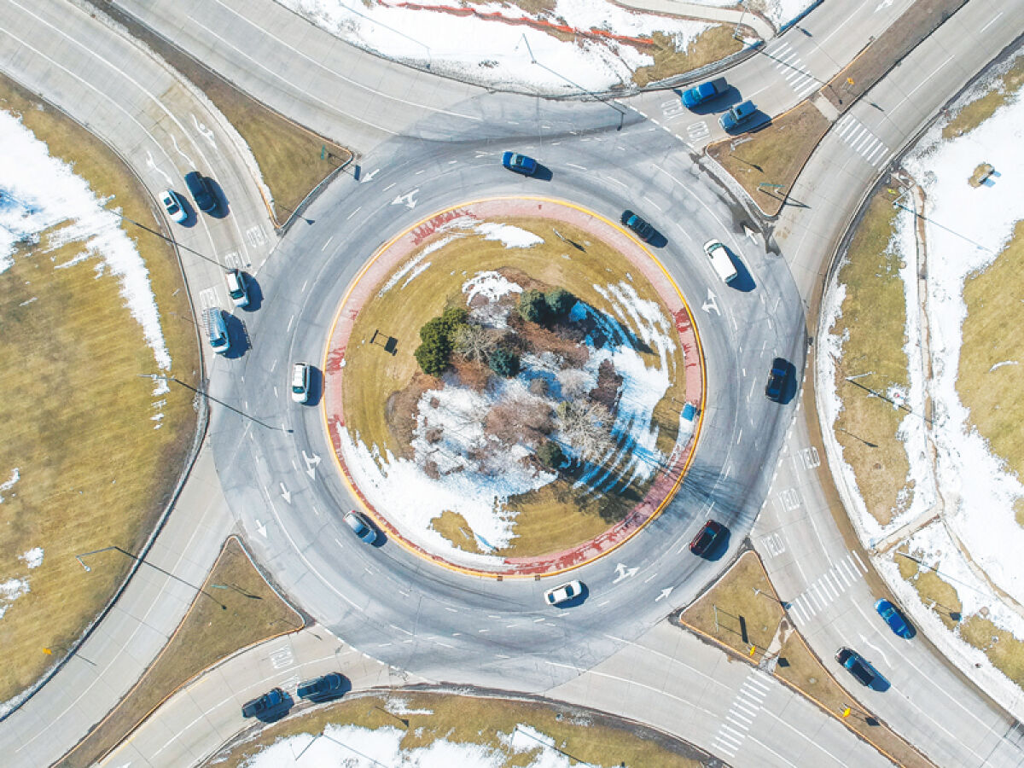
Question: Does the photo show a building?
No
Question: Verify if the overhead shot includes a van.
Yes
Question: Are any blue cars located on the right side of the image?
Yes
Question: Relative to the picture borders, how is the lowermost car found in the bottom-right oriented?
on a diagonal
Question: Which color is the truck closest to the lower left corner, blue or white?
blue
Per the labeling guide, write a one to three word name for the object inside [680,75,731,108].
truck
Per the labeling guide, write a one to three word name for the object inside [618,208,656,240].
car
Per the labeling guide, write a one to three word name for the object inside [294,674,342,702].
car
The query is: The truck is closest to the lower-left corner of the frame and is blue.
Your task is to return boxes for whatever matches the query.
[238,688,291,720]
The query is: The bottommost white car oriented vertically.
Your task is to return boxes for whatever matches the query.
[290,362,310,403]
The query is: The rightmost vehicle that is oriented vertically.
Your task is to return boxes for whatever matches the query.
[767,359,788,401]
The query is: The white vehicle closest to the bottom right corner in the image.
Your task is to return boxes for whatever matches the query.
[542,581,583,606]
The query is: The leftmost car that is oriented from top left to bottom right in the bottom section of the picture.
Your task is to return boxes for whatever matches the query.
[341,509,376,547]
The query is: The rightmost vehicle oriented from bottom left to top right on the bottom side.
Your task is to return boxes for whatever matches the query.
[688,520,722,558]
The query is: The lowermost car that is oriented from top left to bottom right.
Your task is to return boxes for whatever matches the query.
[836,648,877,690]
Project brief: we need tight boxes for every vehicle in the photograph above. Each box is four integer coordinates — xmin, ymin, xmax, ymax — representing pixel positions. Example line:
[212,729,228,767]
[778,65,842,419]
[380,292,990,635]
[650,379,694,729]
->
[718,97,758,129]
[767,359,788,401]
[290,362,310,403]
[294,674,342,702]
[688,520,722,558]
[238,688,291,720]
[341,509,376,547]
[836,648,877,690]
[223,267,249,308]
[680,75,731,108]
[542,581,583,606]
[877,599,913,640]
[204,307,230,354]
[618,208,656,240]
[499,150,537,173]
[157,186,186,225]
[180,168,214,213]
[704,237,738,283]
